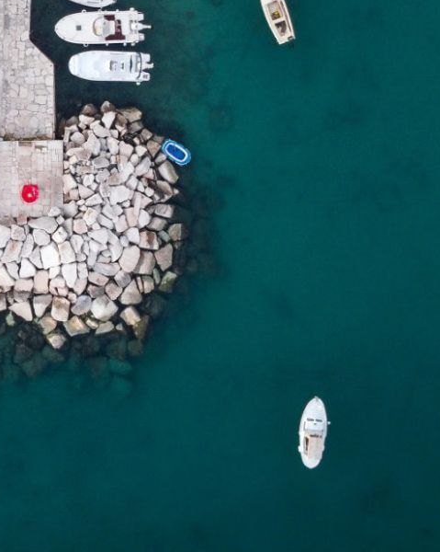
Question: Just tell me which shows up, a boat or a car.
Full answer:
I can see a boat in this picture.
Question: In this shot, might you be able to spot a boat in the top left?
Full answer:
Yes, a boat is visible in the top left.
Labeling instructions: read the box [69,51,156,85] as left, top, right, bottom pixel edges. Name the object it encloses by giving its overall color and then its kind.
white boat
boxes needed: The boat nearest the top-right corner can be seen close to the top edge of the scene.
[262,0,298,46]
